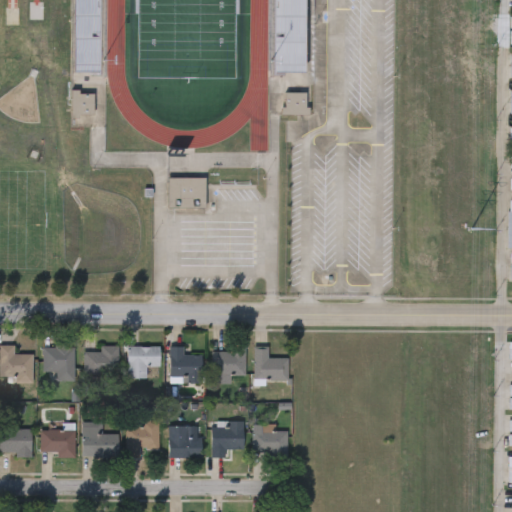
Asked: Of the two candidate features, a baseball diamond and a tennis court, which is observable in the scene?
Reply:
baseball diamond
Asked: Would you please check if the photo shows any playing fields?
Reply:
Yes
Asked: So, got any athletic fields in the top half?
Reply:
Yes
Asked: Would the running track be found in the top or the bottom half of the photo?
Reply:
top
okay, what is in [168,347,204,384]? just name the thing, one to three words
house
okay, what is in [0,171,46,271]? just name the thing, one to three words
sports field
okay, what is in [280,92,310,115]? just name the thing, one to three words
building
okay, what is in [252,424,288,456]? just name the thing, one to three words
house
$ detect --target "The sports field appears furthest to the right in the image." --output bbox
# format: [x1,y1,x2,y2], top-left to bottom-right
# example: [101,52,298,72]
[126,0,250,130]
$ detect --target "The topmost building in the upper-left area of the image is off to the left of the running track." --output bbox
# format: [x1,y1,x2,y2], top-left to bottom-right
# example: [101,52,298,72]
[72,90,95,112]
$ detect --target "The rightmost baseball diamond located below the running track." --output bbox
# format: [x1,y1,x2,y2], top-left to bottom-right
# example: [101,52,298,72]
[65,184,140,273]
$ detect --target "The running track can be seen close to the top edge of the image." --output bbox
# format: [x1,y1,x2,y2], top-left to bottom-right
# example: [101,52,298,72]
[107,0,269,152]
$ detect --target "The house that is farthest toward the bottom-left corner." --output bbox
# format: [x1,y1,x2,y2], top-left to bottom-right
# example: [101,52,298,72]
[0,429,33,458]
